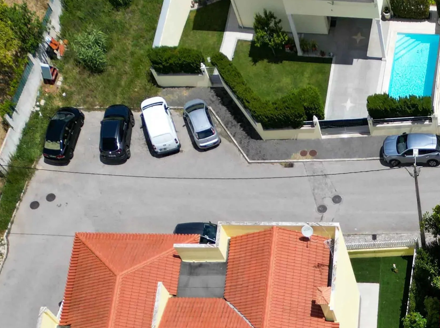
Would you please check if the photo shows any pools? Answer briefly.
Yes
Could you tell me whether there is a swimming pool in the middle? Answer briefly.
No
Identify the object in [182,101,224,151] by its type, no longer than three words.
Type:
car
